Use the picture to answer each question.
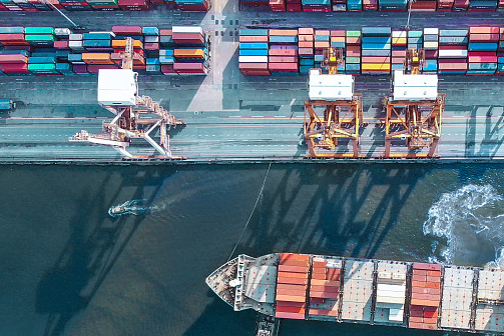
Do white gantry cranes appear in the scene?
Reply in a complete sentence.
Yes, there's a white gantry crane down there.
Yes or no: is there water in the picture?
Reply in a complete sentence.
Yes, water can be seen from above here.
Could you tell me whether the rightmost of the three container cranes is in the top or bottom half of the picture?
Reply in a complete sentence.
The top half of the photo is where the rightmost of the three container cranes is.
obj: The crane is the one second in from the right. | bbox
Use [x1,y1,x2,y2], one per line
[302,45,368,156]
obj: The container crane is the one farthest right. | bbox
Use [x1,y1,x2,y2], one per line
[377,45,448,156]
